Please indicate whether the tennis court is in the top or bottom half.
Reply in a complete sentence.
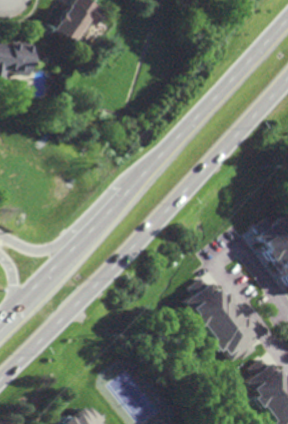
The bottom half of the photo is where the tennis court is.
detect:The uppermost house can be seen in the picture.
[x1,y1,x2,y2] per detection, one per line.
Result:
[54,0,98,36]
